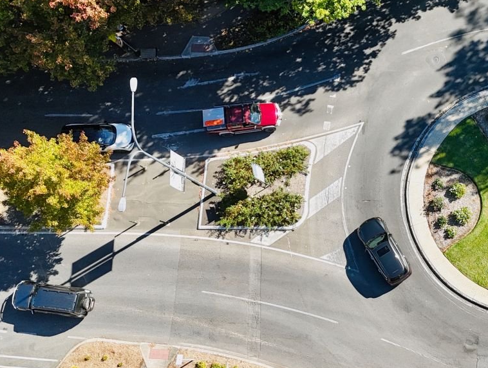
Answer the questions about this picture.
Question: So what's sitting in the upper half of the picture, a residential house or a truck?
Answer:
truck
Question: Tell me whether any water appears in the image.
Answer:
No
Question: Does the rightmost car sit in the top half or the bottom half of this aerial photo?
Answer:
bottom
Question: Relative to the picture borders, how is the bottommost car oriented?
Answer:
from side to side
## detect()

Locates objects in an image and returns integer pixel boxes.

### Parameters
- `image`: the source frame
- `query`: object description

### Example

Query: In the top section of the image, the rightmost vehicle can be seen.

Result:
[201,101,281,138]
